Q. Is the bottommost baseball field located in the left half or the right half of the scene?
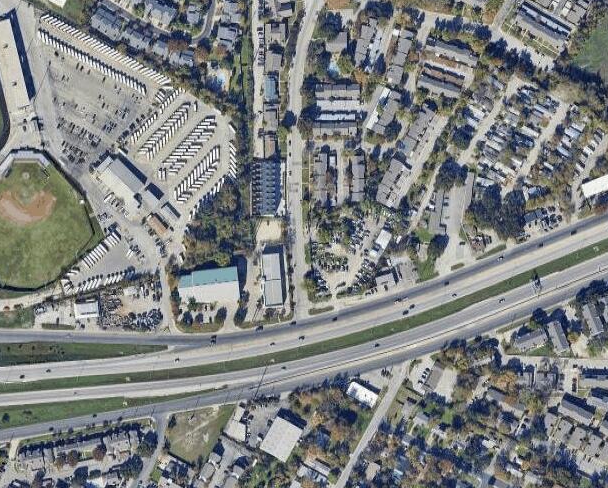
left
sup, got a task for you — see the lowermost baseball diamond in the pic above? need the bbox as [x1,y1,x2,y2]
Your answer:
[0,159,101,290]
